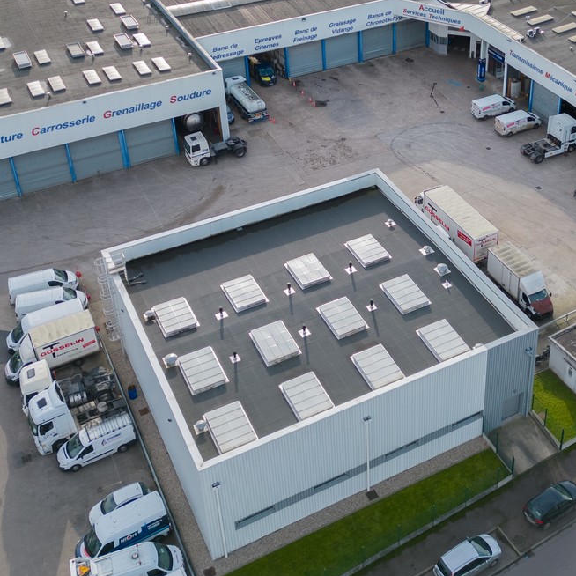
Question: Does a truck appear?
Yes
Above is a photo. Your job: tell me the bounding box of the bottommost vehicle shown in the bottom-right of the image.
[431,533,502,576]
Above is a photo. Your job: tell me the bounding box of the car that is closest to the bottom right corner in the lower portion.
[524,481,576,531]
